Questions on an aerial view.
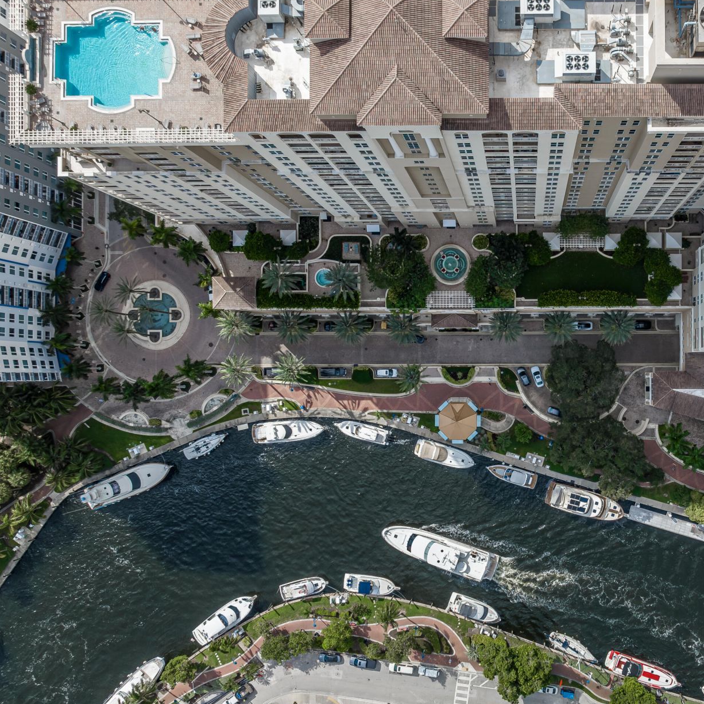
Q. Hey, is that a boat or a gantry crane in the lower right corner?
boat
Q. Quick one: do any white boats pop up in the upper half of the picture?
No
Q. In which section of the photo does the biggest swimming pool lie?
top left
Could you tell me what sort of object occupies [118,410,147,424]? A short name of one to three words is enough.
fountain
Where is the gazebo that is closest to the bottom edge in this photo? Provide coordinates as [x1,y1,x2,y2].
[432,396,483,446]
